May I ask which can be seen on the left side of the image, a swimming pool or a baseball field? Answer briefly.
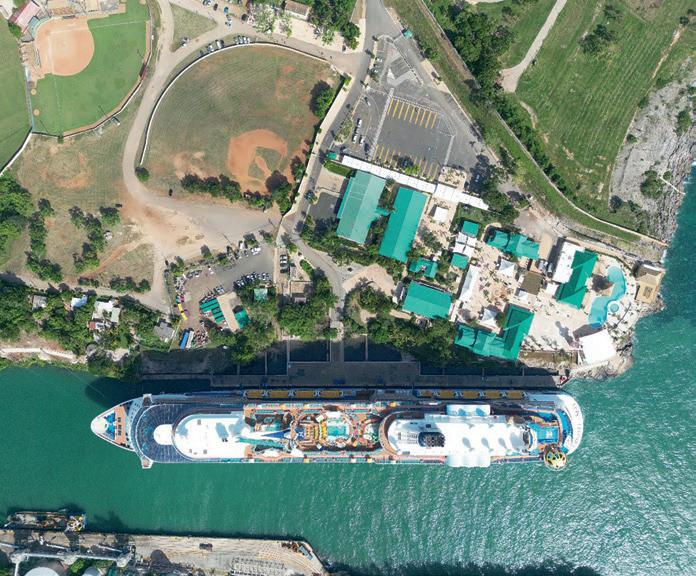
baseball field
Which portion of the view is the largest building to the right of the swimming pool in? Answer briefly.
right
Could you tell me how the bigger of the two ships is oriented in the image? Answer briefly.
horizontally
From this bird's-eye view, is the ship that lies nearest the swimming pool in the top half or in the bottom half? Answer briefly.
bottom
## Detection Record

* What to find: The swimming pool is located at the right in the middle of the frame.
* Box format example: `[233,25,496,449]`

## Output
[588,265,627,328]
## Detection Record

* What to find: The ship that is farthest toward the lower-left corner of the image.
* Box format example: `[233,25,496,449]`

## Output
[5,509,88,530]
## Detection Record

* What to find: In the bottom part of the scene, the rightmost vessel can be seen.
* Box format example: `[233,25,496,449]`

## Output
[91,390,582,471]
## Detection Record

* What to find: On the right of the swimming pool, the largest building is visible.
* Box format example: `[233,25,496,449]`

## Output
[633,263,666,303]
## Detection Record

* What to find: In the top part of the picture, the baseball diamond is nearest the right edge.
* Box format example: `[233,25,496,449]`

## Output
[140,44,343,206]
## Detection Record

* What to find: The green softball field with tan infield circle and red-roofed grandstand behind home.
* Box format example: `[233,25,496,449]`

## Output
[30,0,150,135]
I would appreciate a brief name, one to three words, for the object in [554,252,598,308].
building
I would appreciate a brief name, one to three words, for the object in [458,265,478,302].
tent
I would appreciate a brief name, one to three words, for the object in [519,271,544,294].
building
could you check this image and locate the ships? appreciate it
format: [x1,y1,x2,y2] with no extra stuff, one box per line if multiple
[5,509,88,530]
[91,390,582,471]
